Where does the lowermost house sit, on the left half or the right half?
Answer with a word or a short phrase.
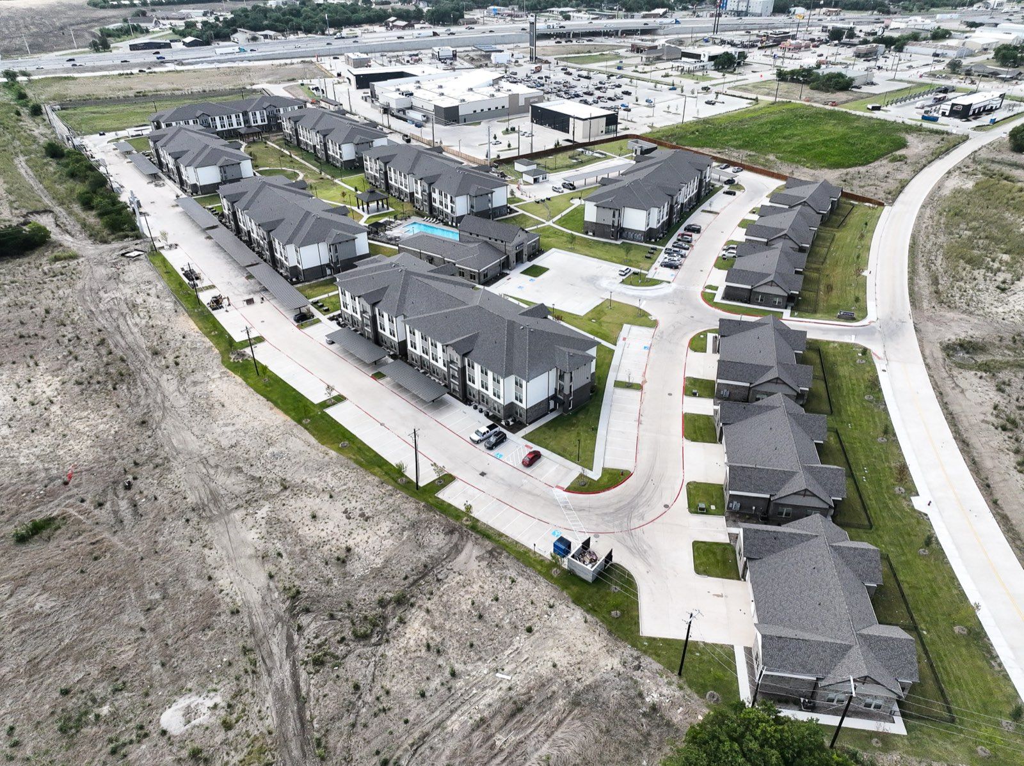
right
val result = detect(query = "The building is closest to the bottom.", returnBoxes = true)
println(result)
[737,515,919,708]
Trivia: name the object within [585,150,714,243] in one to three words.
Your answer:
building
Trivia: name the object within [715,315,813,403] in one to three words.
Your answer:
house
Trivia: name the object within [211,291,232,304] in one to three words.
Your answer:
vehicle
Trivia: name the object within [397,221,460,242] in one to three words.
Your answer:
swimming pool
